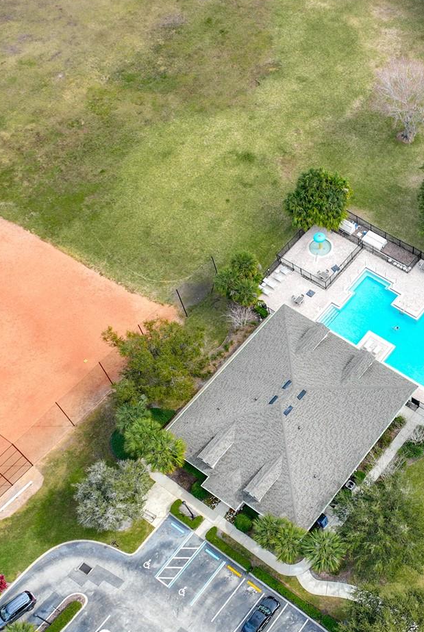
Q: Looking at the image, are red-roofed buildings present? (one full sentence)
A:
No, I can see no red-roofed building in this picture.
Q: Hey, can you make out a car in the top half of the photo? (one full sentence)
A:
No, there is no car in the top half of the photo.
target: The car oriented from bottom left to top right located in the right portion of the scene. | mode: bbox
[239,595,279,632]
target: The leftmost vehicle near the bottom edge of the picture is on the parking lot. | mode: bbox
[0,587,35,630]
